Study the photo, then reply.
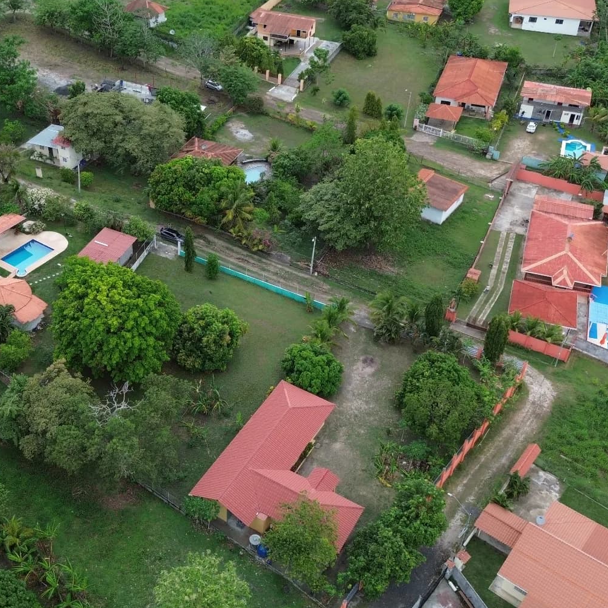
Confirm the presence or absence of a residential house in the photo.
Yes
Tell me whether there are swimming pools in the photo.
Yes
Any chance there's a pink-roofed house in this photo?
Yes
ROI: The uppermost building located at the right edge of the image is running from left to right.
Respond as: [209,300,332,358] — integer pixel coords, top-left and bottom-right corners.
[509,0,598,36]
